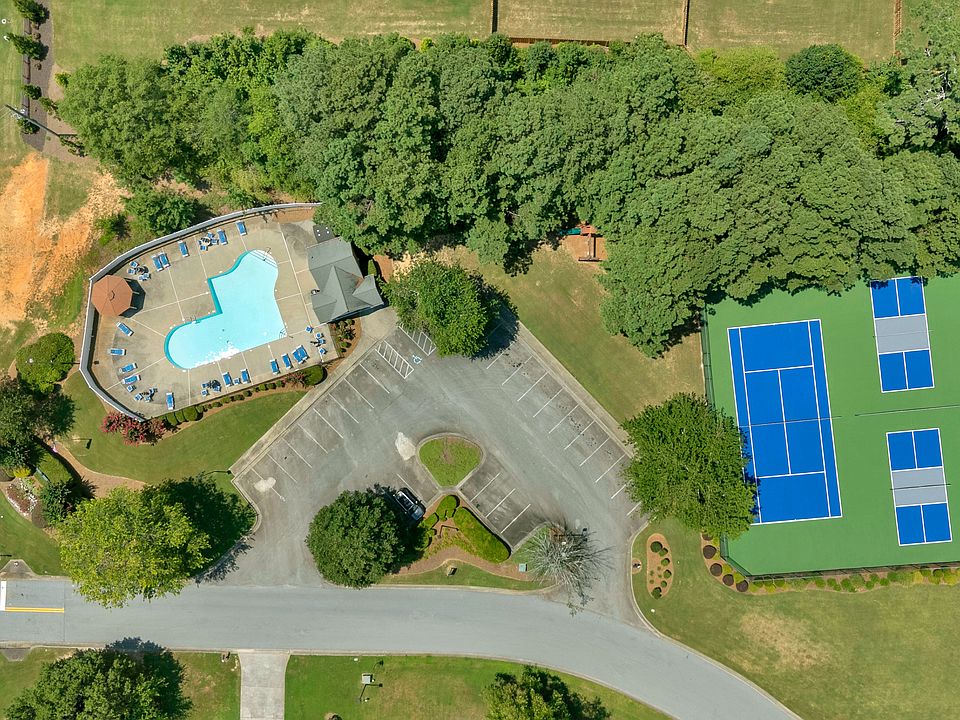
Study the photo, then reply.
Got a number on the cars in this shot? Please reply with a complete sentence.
Just 1 car appears in this view.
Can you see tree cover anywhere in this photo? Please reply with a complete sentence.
Yes, the picture does contain tree cover.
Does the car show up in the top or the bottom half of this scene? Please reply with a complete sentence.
Seen from above, the car lies in the bottom half of the view.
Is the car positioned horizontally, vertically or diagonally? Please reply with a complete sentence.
I'd say the car is aligned diagonally in the picture.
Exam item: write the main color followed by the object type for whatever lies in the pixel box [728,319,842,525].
blue tennis court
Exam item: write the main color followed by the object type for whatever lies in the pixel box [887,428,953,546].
blue sports court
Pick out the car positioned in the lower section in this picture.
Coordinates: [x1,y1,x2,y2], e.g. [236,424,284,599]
[392,488,426,523]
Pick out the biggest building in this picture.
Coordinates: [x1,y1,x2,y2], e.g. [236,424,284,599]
[308,236,387,327]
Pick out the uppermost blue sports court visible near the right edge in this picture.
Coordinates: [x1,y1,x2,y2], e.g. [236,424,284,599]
[871,276,937,393]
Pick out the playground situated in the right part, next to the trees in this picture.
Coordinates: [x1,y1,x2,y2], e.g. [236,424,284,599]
[564,218,603,261]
